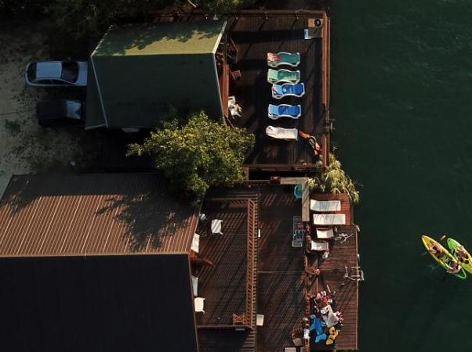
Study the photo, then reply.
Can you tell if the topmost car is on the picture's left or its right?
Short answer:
left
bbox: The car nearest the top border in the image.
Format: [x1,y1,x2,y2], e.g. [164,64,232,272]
[24,57,90,90]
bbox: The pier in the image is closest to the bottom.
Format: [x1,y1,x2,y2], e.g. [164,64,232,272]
[308,227,360,349]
